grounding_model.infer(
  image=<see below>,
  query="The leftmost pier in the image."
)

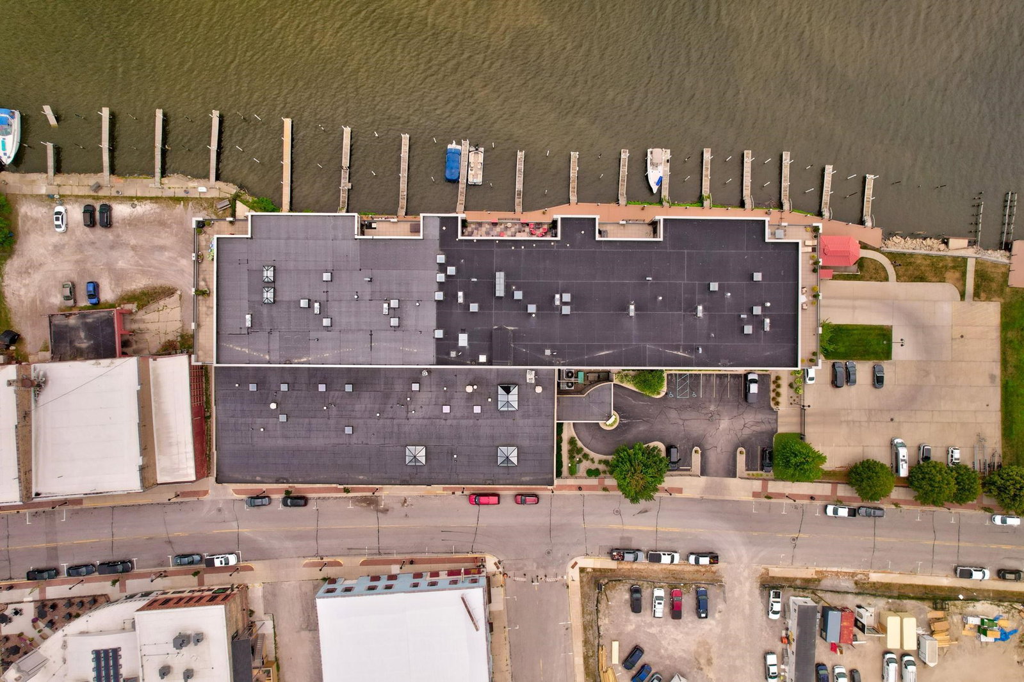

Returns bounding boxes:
[43,142,60,185]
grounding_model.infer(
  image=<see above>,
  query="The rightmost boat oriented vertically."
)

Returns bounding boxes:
[647,147,664,192]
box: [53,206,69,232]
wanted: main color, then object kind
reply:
white car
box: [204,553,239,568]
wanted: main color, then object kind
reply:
white vehicle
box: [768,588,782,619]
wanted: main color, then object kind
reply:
white vehicle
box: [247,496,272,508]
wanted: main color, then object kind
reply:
gray vehicle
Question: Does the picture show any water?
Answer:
Yes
